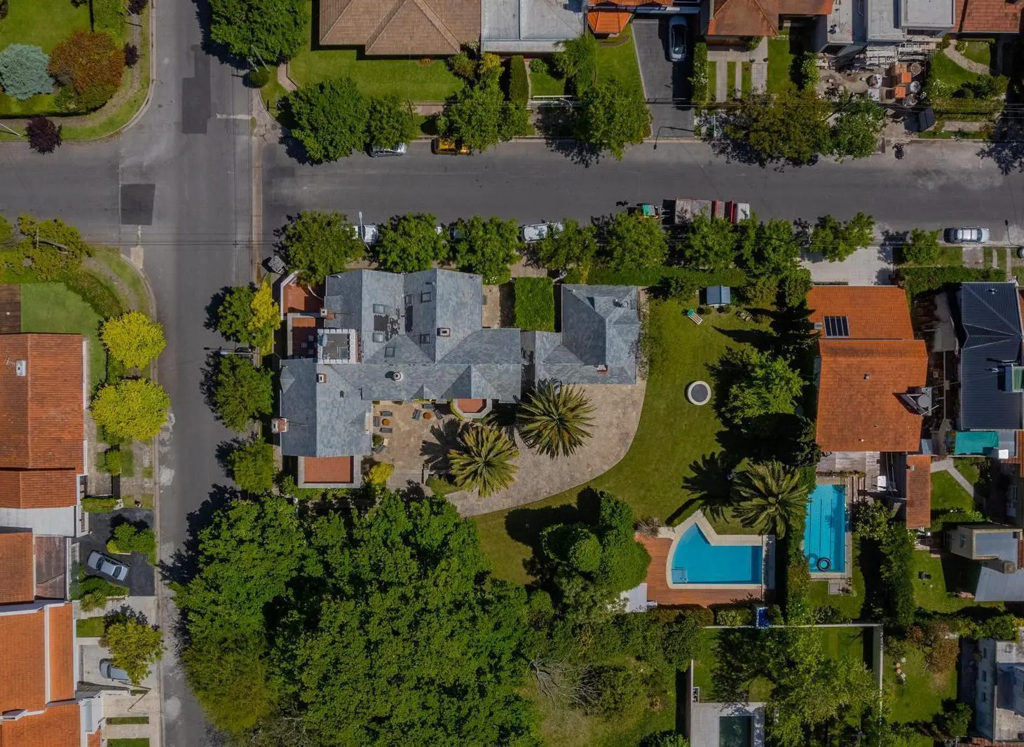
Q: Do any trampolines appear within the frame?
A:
Yes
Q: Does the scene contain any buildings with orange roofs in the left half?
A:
Yes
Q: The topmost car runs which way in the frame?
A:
from top to bottom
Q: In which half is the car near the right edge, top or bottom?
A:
top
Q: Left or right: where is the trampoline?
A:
right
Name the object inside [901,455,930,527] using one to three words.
shed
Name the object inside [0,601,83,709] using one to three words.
house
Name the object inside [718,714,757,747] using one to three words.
swimming pool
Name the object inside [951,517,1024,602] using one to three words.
house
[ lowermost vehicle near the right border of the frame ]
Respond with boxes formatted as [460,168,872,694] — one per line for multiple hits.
[943,226,988,246]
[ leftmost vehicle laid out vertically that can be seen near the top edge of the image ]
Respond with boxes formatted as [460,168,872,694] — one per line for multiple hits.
[668,16,688,62]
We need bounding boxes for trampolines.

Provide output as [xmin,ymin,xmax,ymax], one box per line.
[687,381,711,405]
